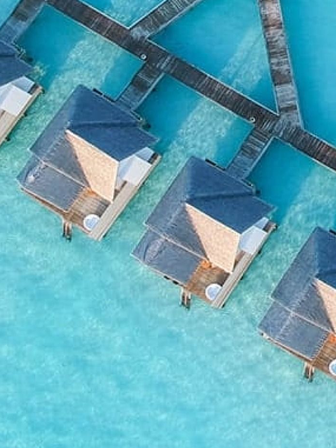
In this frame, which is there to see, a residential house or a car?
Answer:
residential house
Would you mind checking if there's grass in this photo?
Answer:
No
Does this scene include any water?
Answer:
Yes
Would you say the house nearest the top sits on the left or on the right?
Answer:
left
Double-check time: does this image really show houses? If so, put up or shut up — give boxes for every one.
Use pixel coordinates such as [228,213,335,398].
[249,222,336,384]
[129,154,284,310]
[0,37,64,159]
[15,90,172,239]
